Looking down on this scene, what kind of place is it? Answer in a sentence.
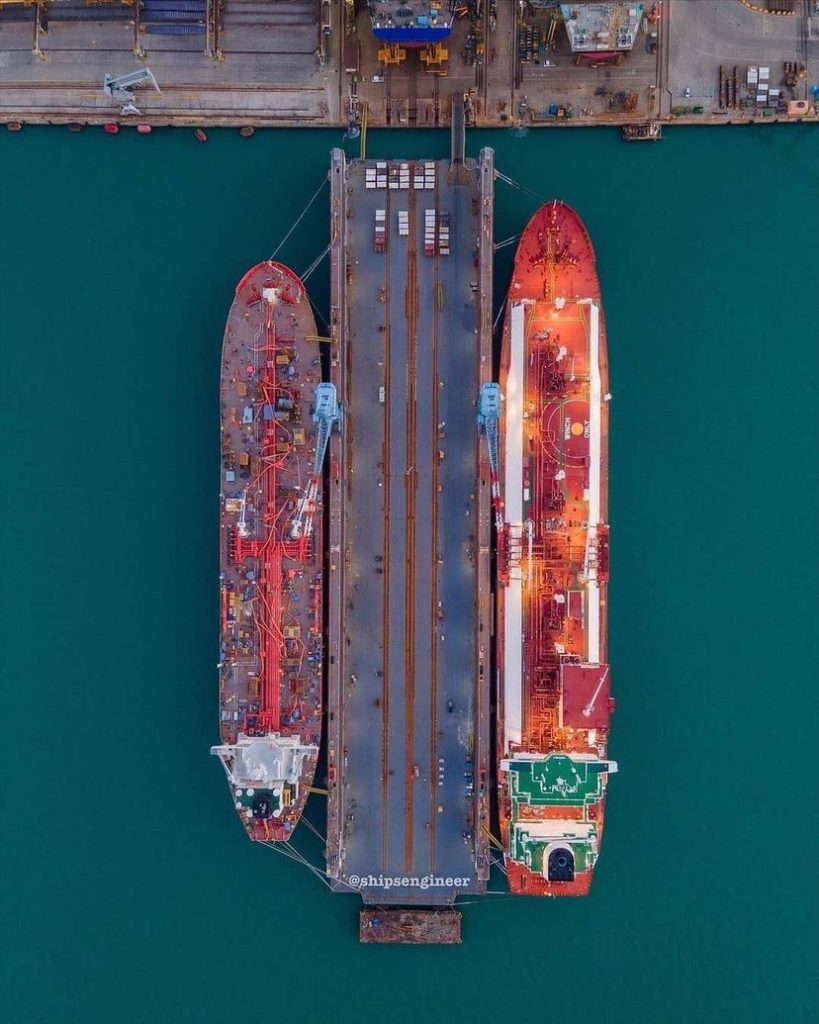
It's a port.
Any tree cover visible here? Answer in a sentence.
No, no tree cover is visible.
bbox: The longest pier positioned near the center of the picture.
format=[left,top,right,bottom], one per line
[326,145,494,905]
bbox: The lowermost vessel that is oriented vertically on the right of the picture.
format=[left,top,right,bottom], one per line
[495,199,618,896]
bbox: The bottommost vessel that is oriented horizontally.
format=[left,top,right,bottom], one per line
[360,907,463,944]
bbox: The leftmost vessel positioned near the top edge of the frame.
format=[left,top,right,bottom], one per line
[370,0,454,47]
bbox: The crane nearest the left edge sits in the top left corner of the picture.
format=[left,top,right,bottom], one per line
[104,66,164,118]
